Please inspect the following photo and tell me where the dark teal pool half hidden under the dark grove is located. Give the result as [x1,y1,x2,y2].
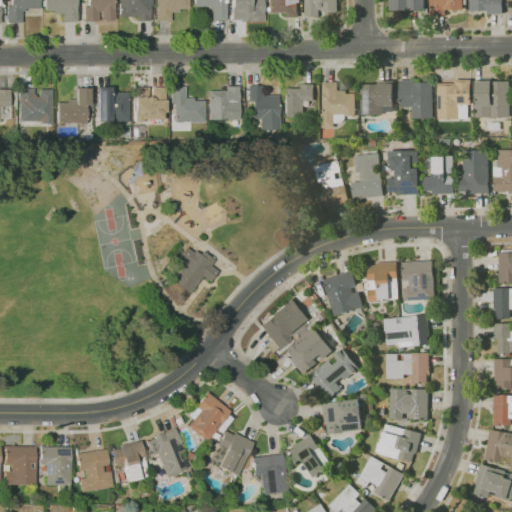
[306,140,332,159]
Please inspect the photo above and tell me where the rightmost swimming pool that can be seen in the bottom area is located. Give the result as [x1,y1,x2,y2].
[400,300,428,316]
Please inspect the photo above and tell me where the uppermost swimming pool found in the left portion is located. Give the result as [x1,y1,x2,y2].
[178,424,200,454]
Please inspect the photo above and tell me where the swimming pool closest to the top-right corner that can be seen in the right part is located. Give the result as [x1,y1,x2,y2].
[361,116,396,136]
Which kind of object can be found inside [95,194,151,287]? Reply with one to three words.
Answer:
basketball court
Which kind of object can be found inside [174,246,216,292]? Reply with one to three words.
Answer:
building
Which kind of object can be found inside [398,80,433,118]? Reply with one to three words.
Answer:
house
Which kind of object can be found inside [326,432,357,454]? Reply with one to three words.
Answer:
swimming pool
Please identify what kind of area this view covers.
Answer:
residential area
